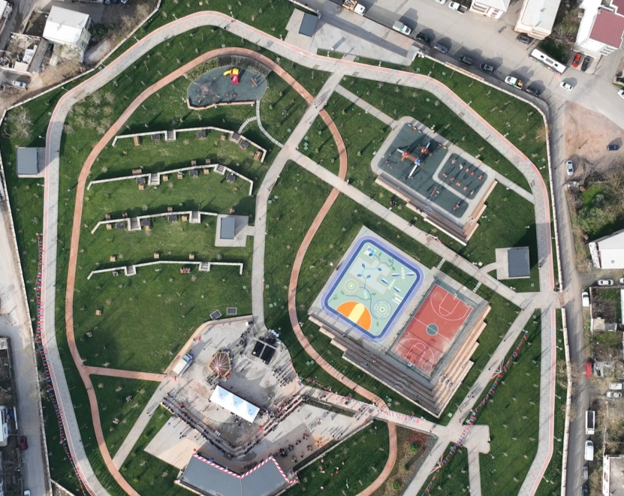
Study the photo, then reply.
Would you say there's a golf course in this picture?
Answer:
No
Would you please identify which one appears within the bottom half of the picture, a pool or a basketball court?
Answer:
basketball court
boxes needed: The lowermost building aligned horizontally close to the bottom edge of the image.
[181,454,289,496]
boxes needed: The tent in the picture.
[210,385,260,422]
